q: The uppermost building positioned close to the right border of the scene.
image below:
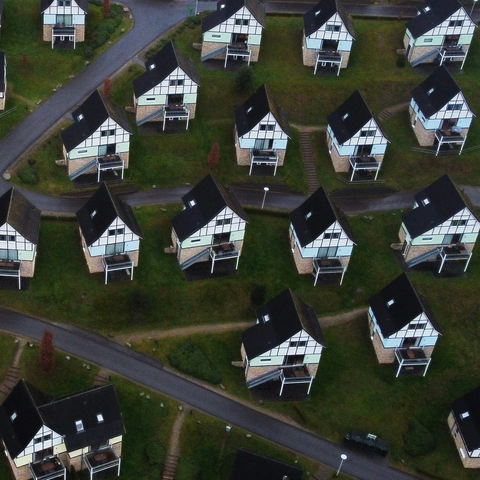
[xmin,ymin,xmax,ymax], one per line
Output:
[396,0,478,69]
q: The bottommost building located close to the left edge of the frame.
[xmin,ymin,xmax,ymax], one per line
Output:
[0,378,126,480]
